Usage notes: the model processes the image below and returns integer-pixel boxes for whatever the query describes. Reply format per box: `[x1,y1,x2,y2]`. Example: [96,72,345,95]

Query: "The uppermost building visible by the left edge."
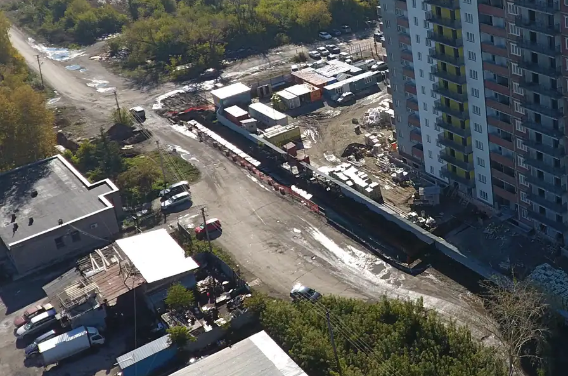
[0,153,125,274]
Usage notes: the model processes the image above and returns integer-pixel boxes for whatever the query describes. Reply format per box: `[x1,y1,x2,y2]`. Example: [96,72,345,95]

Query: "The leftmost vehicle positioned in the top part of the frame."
[130,106,145,121]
